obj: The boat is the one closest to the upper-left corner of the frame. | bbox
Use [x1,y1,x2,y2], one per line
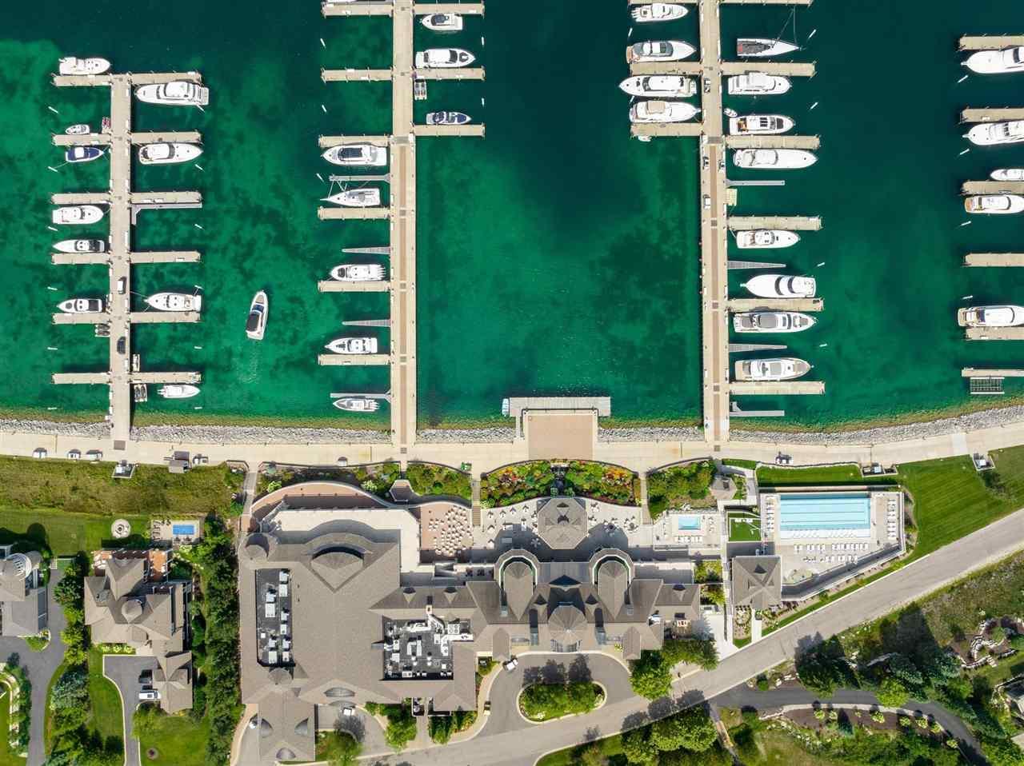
[60,57,112,75]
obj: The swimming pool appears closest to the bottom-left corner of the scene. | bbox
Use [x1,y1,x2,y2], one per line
[151,519,200,545]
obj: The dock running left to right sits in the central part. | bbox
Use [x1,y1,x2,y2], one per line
[509,397,610,433]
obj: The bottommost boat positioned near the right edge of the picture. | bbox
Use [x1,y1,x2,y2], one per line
[955,304,1024,328]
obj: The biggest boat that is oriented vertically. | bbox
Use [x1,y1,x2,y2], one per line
[246,291,268,340]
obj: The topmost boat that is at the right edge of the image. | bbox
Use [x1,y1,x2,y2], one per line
[963,47,1024,76]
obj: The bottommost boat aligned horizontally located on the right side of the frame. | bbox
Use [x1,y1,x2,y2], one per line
[734,357,814,381]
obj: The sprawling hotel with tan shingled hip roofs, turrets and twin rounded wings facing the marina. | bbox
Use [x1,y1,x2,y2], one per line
[238,494,700,762]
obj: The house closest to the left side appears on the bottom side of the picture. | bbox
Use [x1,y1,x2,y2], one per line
[0,542,52,638]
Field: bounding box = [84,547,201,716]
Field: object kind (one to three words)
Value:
house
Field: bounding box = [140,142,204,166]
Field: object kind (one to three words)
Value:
boat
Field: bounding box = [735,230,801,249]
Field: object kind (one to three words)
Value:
boat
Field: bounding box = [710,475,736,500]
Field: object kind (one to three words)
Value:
building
